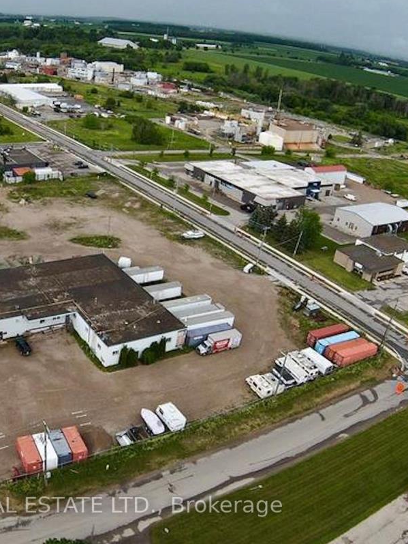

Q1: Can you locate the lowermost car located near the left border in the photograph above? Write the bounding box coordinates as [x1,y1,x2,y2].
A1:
[15,334,31,352]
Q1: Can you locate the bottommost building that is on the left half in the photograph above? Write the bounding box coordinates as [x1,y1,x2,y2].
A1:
[0,254,186,367]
